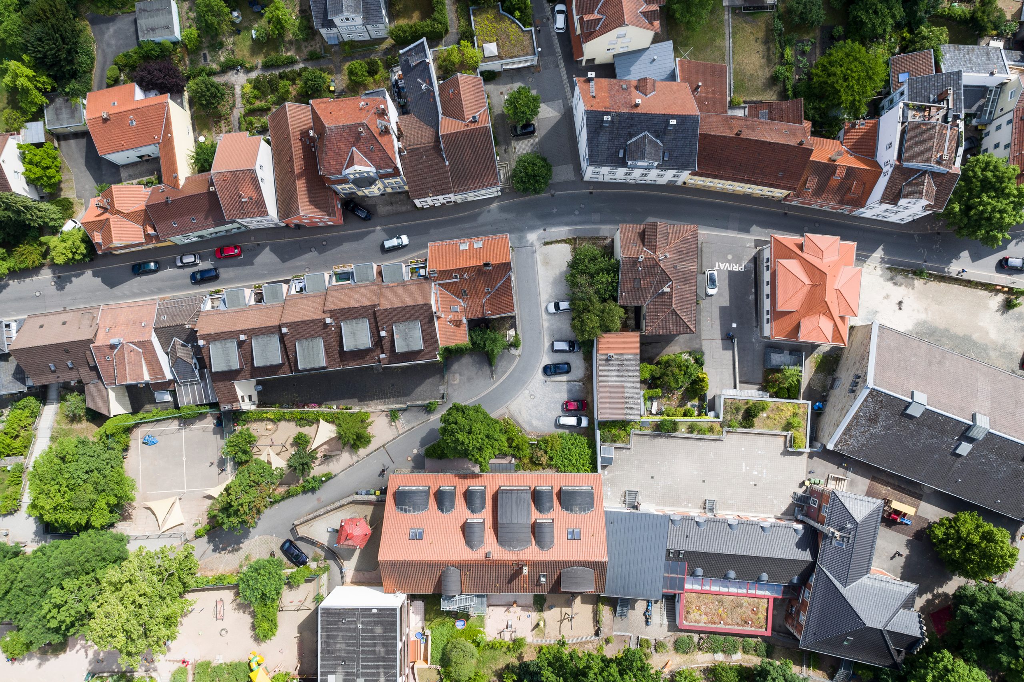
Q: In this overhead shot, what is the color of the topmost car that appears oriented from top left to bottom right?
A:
black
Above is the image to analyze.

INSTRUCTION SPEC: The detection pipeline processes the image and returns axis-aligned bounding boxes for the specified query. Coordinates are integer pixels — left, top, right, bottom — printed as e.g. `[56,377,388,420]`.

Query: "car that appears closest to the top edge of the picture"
[554,5,567,33]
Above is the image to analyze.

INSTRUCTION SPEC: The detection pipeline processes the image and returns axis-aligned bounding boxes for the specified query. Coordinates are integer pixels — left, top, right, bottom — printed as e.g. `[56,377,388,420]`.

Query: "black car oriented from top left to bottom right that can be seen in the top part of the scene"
[343,198,373,222]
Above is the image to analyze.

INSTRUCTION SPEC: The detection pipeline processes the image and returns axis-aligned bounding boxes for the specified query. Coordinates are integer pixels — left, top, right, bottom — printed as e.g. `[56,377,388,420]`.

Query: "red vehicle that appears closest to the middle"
[563,399,587,412]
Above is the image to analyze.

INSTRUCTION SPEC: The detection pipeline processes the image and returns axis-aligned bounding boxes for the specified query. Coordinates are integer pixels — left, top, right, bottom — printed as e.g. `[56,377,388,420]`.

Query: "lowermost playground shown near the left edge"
[0,580,320,682]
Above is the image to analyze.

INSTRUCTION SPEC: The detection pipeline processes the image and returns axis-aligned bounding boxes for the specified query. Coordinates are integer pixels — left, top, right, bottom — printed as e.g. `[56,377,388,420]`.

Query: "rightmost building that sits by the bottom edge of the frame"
[780,482,919,672]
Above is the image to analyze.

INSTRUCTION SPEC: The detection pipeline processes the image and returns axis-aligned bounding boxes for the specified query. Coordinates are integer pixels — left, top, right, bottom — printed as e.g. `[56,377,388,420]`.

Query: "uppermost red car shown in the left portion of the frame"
[216,245,243,258]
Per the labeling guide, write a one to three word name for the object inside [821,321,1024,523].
building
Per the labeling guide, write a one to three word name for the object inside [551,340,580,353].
vehicle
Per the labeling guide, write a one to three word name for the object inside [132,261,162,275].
car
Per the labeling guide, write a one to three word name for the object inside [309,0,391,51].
house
